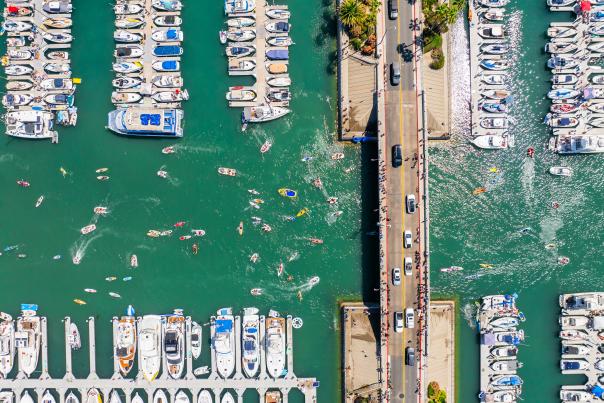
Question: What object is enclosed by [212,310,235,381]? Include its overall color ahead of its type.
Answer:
white boat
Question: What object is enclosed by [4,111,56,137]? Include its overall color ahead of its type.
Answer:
white boat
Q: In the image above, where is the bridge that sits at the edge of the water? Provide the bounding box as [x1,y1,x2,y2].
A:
[377,90,431,356]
